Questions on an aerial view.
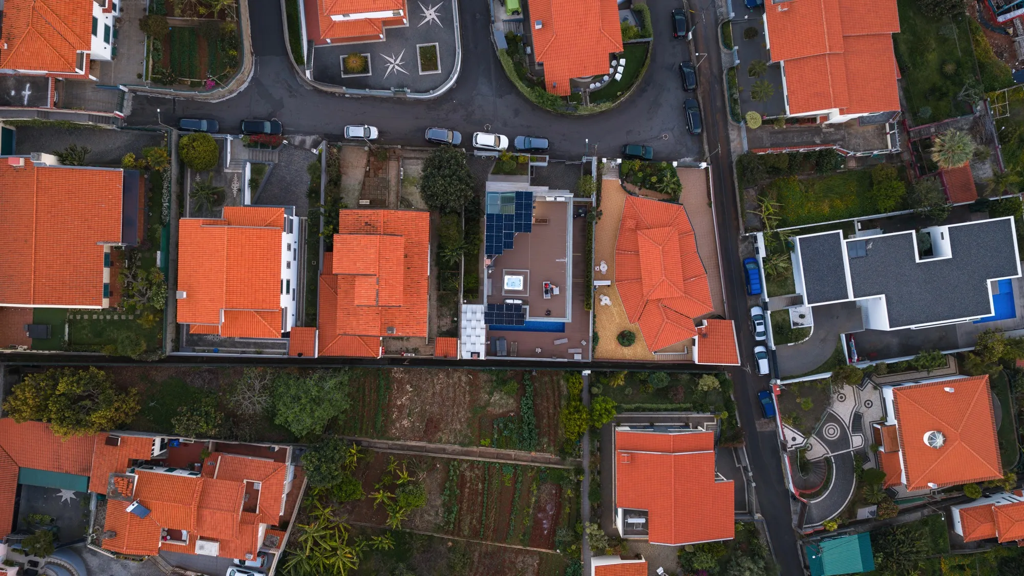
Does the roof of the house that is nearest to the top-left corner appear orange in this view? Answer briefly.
Yes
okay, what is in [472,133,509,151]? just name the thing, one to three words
car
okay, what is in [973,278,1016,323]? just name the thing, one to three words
swimming pool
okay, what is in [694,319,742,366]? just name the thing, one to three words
building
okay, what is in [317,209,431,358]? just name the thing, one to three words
house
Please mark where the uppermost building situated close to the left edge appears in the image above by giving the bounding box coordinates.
[0,0,113,85]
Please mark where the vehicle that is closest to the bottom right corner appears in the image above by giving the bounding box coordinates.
[755,387,776,421]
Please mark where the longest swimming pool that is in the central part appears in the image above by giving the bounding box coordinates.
[488,317,565,332]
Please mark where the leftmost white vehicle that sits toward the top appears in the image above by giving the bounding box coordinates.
[345,124,379,141]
